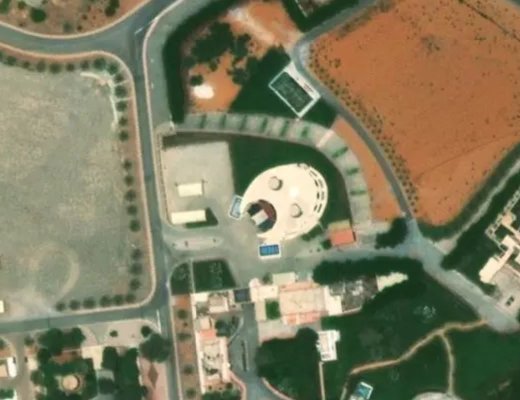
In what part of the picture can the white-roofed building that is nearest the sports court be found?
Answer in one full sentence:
The white-roofed building that is nearest the sports court appears toward the center of the photo.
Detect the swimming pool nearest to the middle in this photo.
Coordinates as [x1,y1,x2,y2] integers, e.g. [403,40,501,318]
[229,195,243,218]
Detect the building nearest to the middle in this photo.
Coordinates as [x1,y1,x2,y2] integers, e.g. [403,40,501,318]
[243,163,329,243]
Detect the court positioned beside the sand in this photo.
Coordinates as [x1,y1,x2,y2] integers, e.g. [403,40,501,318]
[270,61,321,115]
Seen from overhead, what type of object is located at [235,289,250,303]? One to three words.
swimming pool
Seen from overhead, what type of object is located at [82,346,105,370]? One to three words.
house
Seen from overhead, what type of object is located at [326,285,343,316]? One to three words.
house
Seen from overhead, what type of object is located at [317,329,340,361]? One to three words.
building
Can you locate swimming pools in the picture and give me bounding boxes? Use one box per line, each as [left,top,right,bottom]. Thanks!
[258,243,281,258]
[355,382,373,400]
[235,289,250,303]
[229,195,243,218]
